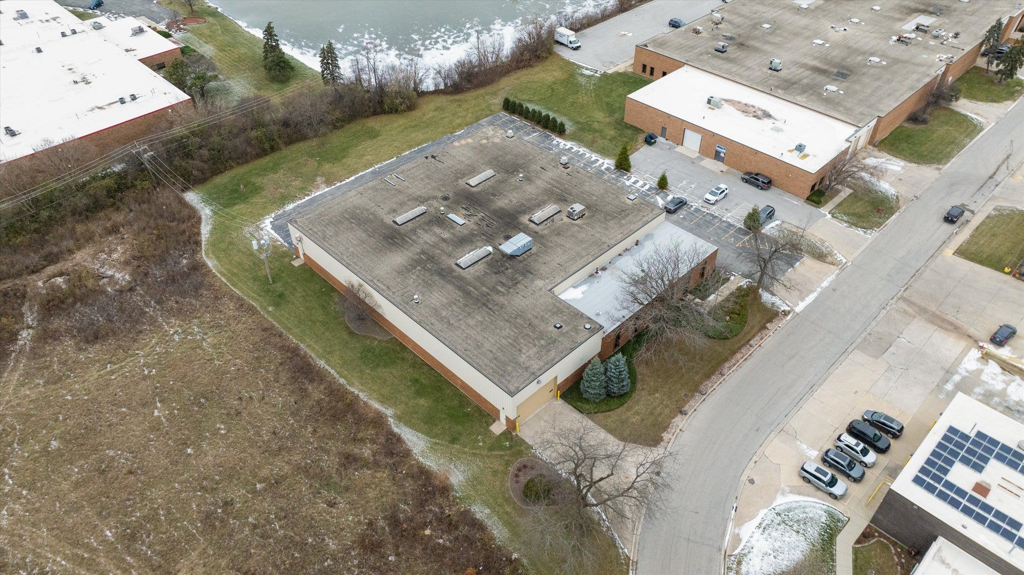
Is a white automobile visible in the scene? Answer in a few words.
Yes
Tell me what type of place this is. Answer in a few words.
industrial area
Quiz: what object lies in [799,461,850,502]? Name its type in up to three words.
car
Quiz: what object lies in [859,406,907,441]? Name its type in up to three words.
car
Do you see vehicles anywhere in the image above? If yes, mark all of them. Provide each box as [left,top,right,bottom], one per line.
[762,203,776,226]
[859,406,907,441]
[830,429,879,468]
[816,444,866,484]
[842,414,894,455]
[988,322,1014,348]
[703,182,728,204]
[86,0,106,10]
[942,206,964,224]
[799,461,850,502]
[548,21,580,48]
[667,15,684,26]
[664,196,690,215]
[739,171,773,190]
